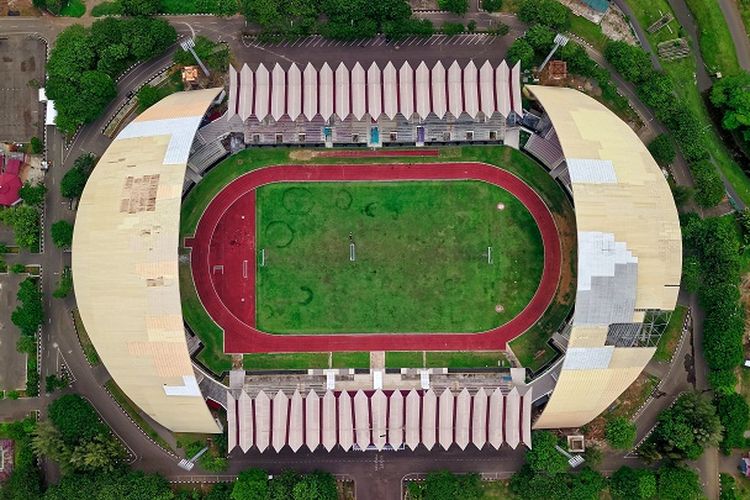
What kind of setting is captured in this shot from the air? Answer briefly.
sports ground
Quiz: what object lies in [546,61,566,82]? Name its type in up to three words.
building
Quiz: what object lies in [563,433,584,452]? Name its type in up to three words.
building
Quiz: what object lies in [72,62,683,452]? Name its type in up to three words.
stadium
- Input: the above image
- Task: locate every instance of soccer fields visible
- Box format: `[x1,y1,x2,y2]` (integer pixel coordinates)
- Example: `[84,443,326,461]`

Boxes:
[256,181,545,335]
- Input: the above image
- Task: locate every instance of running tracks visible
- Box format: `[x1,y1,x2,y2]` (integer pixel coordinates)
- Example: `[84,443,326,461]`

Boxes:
[185,162,562,354]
